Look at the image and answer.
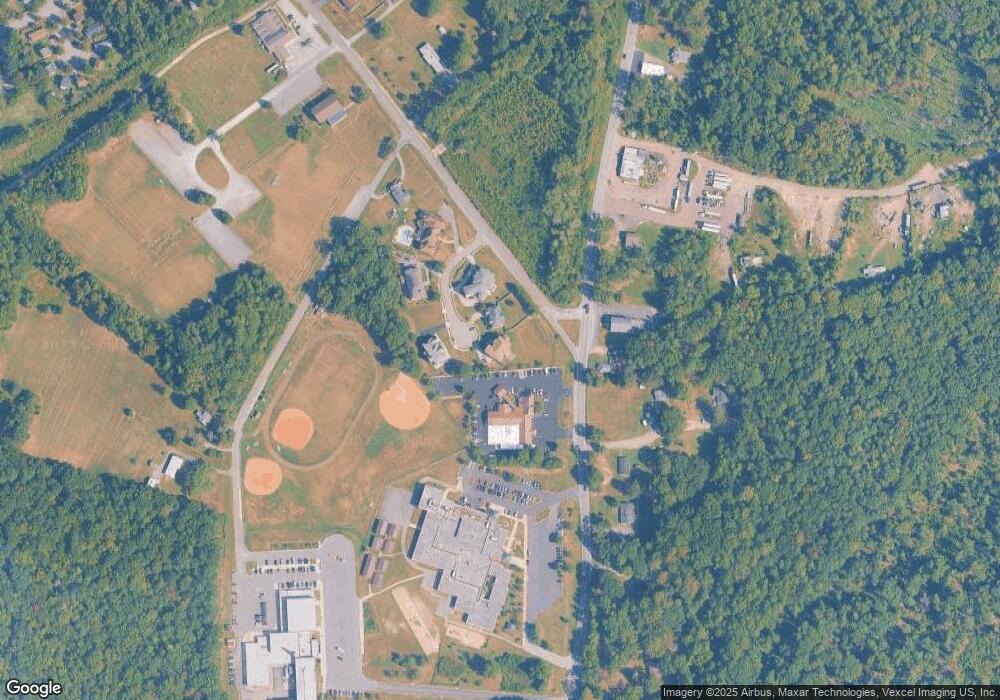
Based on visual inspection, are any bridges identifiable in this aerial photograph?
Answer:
No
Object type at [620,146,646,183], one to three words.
building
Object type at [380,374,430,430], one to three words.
baseball field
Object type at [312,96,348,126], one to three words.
house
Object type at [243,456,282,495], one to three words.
baseball field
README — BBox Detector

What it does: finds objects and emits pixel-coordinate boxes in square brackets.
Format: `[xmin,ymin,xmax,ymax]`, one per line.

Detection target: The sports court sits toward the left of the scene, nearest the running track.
[381,486,411,527]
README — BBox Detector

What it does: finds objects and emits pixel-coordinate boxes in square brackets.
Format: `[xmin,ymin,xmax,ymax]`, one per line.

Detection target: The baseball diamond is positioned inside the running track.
[271,409,313,449]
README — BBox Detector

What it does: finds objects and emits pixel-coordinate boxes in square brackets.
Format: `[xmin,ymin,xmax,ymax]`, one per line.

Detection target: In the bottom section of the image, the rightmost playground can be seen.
[446,625,488,649]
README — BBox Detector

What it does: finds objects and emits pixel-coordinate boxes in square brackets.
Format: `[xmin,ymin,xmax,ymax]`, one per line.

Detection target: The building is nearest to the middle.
[486,335,513,362]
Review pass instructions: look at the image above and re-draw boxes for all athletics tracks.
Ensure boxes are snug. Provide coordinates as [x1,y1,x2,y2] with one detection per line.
[267,329,380,470]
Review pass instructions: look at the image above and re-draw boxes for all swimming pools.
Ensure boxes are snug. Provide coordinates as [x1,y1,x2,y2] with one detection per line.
[396,226,412,243]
